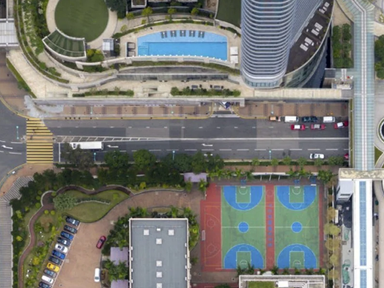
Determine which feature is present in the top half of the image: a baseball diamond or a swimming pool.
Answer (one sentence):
You can see a swimming pool in the top half of the image.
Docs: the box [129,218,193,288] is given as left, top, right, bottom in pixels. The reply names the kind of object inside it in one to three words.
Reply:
building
